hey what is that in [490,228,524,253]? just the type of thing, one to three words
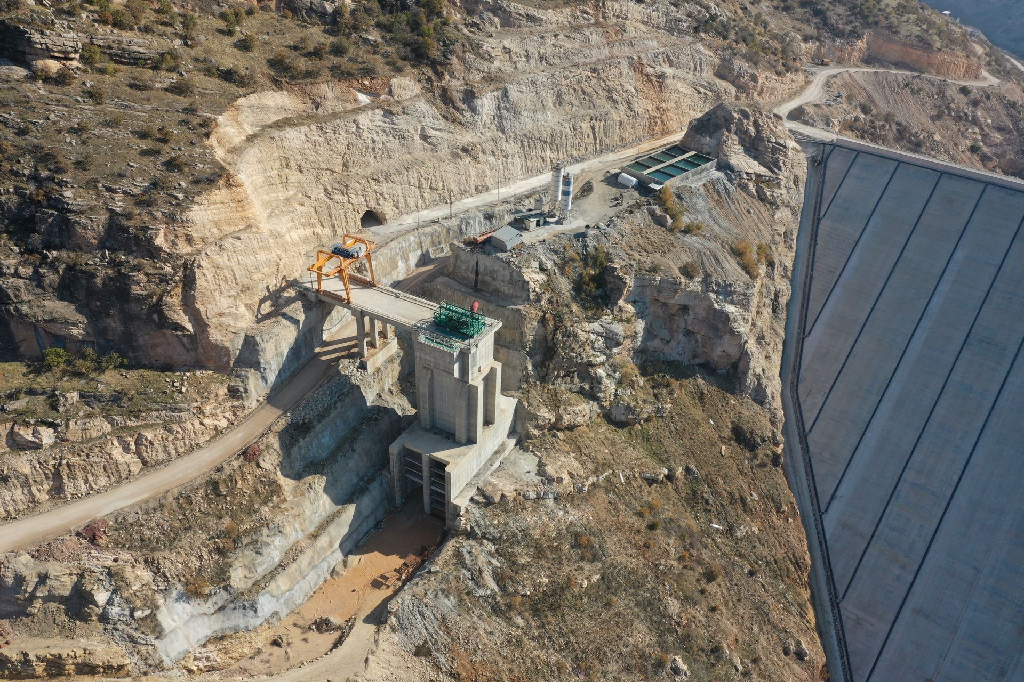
shed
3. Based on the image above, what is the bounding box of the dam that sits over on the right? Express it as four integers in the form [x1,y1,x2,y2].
[780,121,1024,682]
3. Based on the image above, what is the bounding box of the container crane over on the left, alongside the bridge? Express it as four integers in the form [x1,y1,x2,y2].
[306,234,377,303]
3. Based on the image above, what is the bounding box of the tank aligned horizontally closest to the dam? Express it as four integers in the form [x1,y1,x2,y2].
[621,145,717,193]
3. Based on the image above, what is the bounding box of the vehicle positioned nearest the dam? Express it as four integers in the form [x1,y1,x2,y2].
[812,53,831,65]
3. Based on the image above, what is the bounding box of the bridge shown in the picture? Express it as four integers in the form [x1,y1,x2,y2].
[313,273,502,378]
